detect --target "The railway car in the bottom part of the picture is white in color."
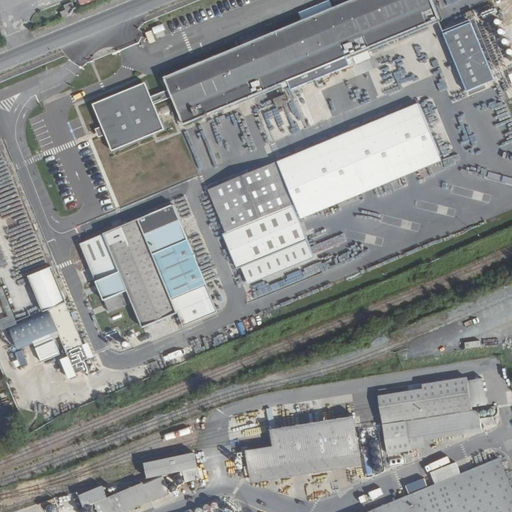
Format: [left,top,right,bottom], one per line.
[162,427,192,440]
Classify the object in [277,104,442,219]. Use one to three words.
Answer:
building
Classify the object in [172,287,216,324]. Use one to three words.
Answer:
building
